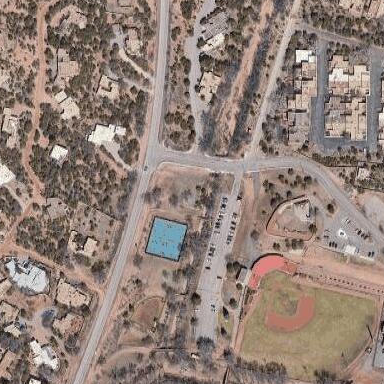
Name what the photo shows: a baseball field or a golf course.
baseball field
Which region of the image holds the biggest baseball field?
bottom right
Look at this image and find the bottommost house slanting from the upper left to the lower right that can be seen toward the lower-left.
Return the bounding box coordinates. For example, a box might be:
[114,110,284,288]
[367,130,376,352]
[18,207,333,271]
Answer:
[26,339,60,368]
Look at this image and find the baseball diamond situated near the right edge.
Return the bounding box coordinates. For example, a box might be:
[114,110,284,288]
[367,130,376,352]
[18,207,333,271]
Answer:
[235,269,379,382]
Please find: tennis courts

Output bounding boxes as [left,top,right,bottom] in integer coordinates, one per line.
[146,216,187,261]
